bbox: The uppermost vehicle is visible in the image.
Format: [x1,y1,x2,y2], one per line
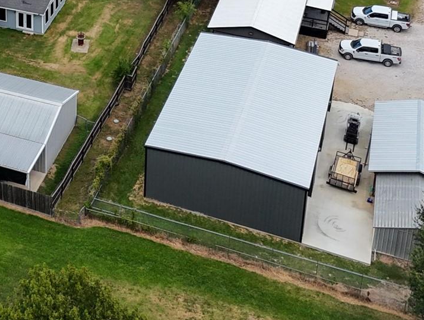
[349,2,412,32]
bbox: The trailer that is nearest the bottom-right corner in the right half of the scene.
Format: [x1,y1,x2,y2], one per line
[327,139,362,195]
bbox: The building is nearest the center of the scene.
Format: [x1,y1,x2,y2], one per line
[141,30,331,241]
